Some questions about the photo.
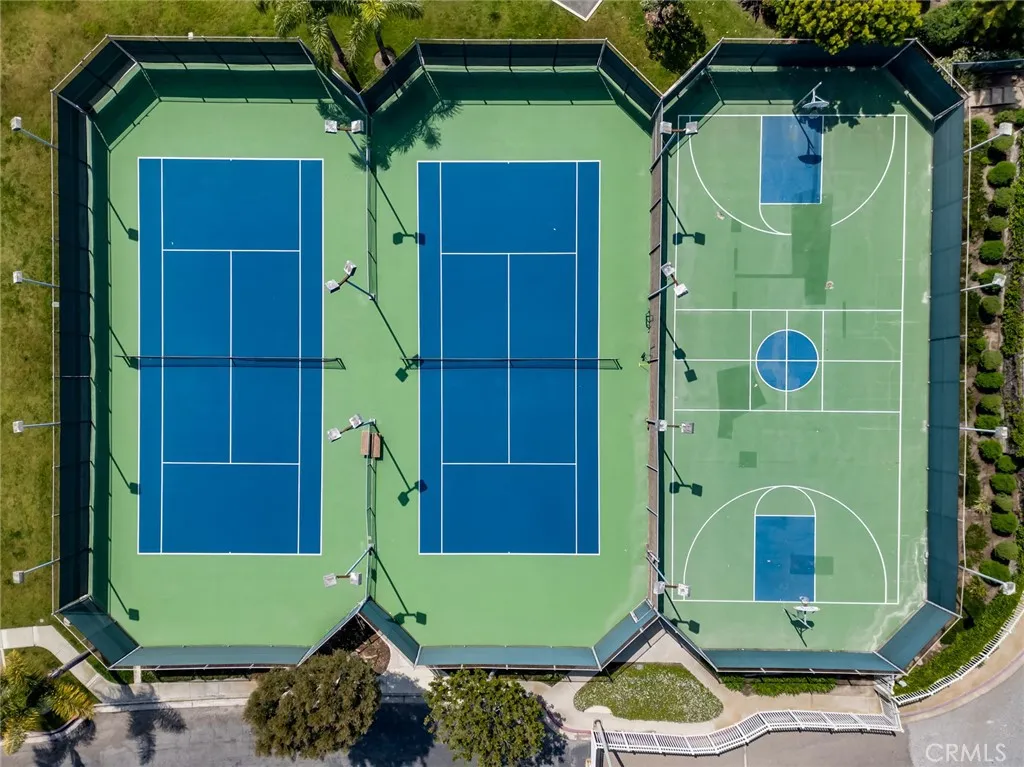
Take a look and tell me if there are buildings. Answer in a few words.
No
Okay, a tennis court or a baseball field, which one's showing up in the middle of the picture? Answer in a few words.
tennis court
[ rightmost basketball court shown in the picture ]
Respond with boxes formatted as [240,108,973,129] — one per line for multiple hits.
[647,58,935,654]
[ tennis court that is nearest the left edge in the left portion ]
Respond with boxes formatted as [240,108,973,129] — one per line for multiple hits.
[84,59,371,650]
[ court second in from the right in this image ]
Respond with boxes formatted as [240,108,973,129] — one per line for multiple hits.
[371,61,650,645]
